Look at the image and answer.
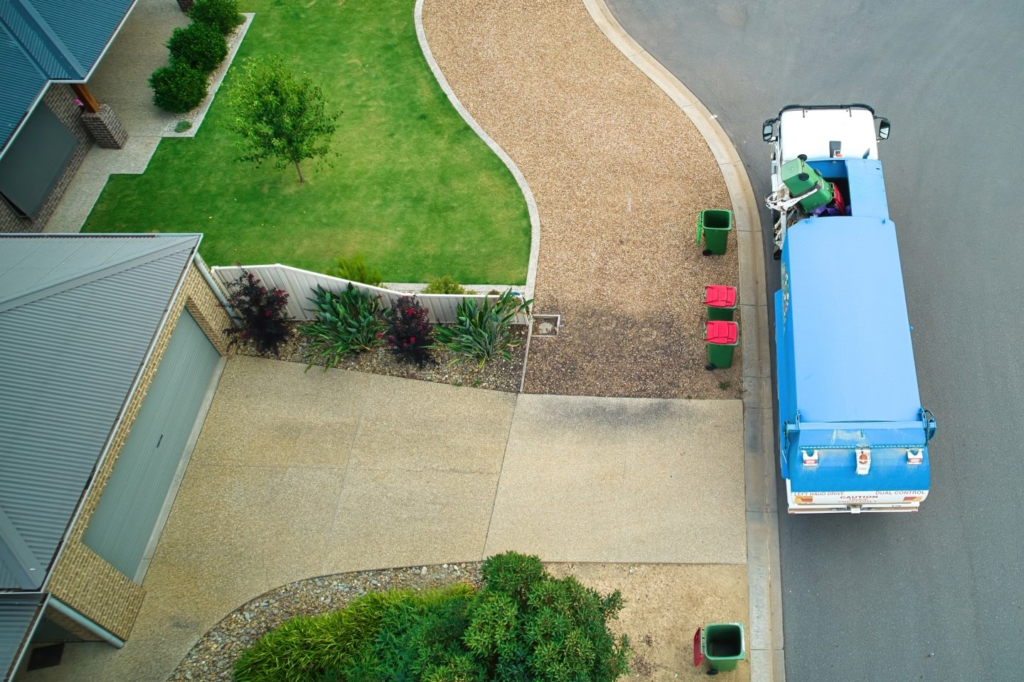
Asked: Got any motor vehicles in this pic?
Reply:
Yes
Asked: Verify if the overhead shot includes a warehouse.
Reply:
No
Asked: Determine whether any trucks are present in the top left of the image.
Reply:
No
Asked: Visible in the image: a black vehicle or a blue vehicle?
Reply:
blue vehicle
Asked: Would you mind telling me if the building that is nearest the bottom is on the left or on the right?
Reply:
left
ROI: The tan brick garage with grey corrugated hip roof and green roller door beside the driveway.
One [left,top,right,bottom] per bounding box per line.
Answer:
[0,227,242,682]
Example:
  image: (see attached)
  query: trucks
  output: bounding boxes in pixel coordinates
[763,106,940,520]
